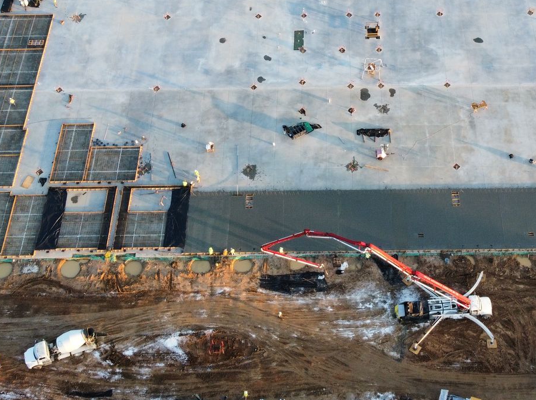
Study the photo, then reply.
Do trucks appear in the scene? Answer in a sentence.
Yes, the picture does show a truck.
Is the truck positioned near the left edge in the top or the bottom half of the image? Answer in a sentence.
Seen from above, the truck positioned near the left edge lies in the bottom half of the view.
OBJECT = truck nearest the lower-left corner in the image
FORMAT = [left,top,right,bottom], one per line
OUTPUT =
[21,331,101,370]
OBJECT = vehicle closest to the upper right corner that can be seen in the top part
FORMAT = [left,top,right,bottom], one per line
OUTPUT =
[365,21,379,40]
